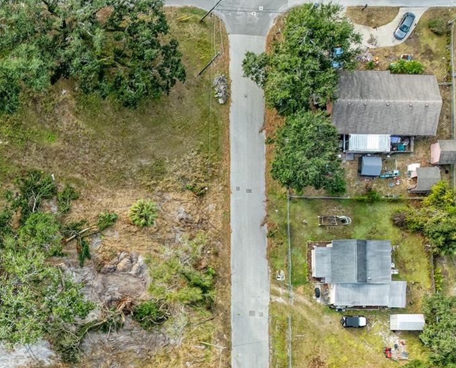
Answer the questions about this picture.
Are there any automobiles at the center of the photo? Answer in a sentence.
No, I see no automobile at the center of the photo.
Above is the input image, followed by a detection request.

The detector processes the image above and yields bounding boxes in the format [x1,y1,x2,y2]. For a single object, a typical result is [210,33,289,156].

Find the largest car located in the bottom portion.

[344,315,369,328]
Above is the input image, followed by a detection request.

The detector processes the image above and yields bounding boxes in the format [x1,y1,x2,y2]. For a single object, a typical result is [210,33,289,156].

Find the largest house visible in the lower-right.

[308,240,407,308]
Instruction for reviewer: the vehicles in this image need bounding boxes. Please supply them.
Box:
[344,315,369,328]
[395,9,422,40]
